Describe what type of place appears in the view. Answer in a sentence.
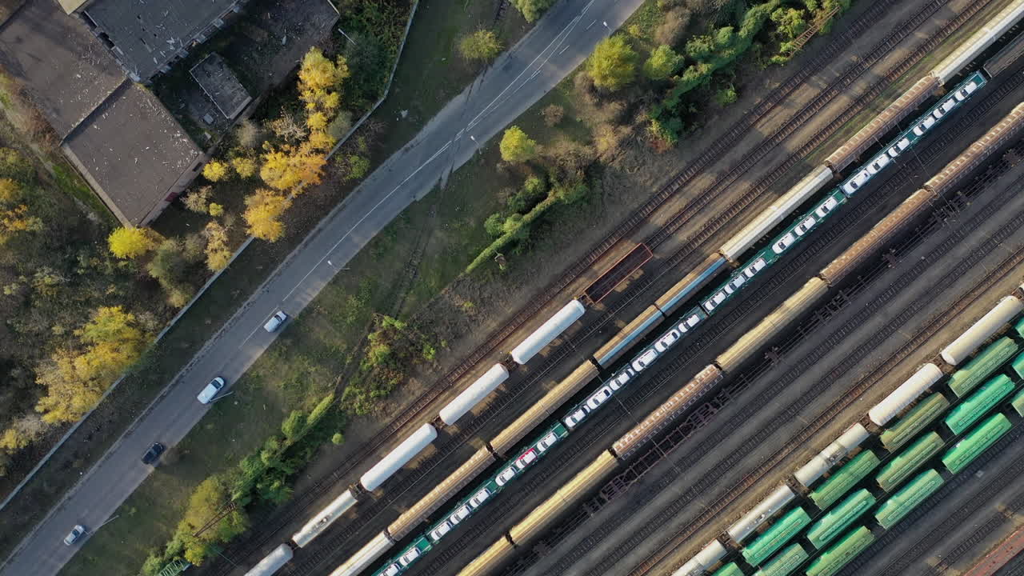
The picture captures a rail yard.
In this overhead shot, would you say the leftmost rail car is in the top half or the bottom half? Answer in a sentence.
It is in the bottom half that the leftmost rail car appears.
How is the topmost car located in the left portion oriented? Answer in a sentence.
Seen from above, the topmost car located in the left portion lies diagonally.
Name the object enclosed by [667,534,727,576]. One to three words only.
rail car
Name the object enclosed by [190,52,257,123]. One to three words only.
shed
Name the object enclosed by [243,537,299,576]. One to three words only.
rail car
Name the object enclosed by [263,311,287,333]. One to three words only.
car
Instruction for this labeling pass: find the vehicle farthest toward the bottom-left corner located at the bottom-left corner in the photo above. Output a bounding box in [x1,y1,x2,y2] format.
[64,523,86,545]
